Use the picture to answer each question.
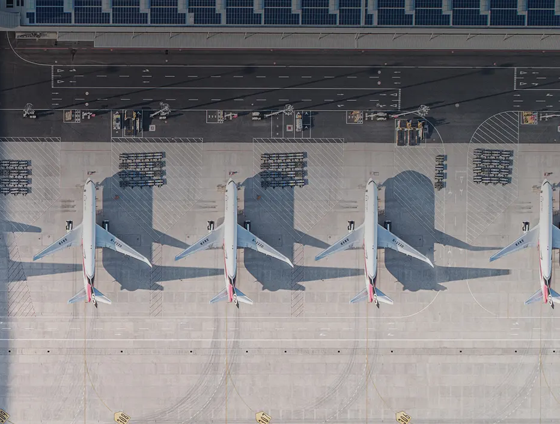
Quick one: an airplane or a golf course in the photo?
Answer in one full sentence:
This aerial view contains an airplane.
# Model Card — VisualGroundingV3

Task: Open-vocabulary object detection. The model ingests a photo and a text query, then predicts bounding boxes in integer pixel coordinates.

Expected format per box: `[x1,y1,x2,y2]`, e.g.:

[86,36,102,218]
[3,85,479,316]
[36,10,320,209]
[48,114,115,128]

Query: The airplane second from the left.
[175,179,297,307]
